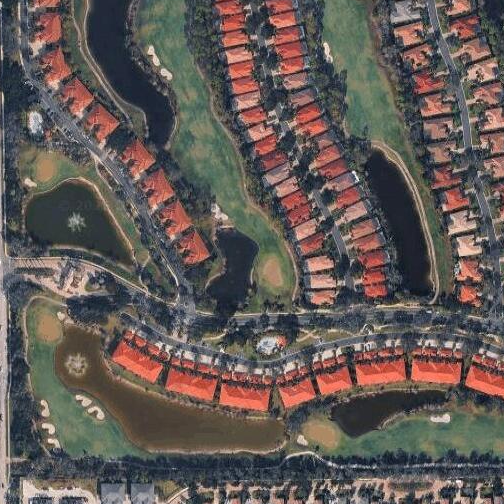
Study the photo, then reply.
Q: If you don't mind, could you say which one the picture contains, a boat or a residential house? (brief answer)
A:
residential house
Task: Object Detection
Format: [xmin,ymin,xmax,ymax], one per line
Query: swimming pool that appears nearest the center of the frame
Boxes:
[257,335,278,354]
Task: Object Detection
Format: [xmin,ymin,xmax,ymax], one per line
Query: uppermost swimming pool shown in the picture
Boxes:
[28,110,43,134]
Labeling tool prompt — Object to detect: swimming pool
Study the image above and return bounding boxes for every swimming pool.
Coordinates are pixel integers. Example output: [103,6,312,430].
[28,110,43,134]
[257,335,278,354]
